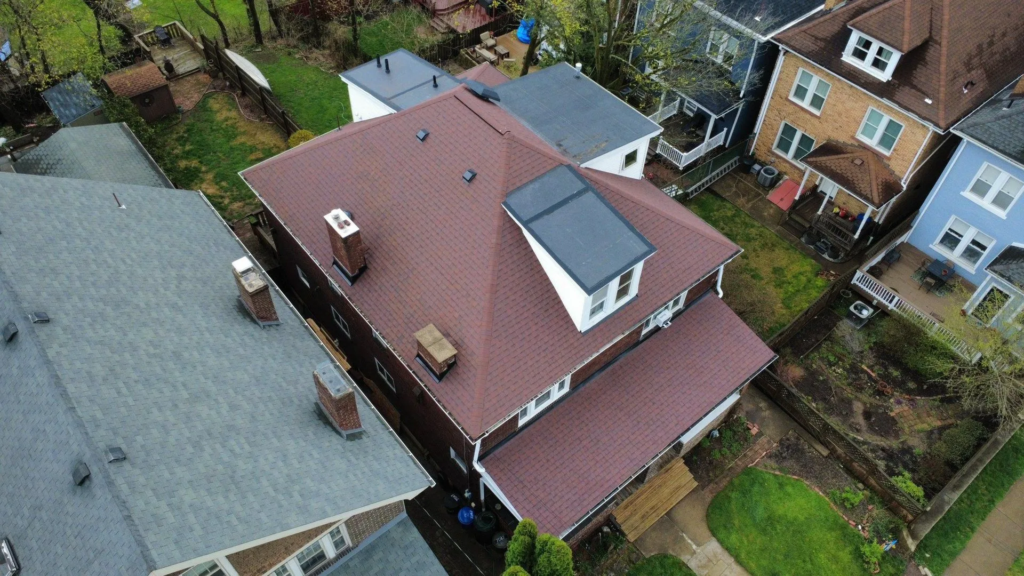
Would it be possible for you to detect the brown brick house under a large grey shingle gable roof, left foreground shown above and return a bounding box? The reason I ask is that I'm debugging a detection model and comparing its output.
[0,171,451,576]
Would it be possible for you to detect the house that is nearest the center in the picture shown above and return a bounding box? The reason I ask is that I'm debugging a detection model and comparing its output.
[237,48,778,554]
